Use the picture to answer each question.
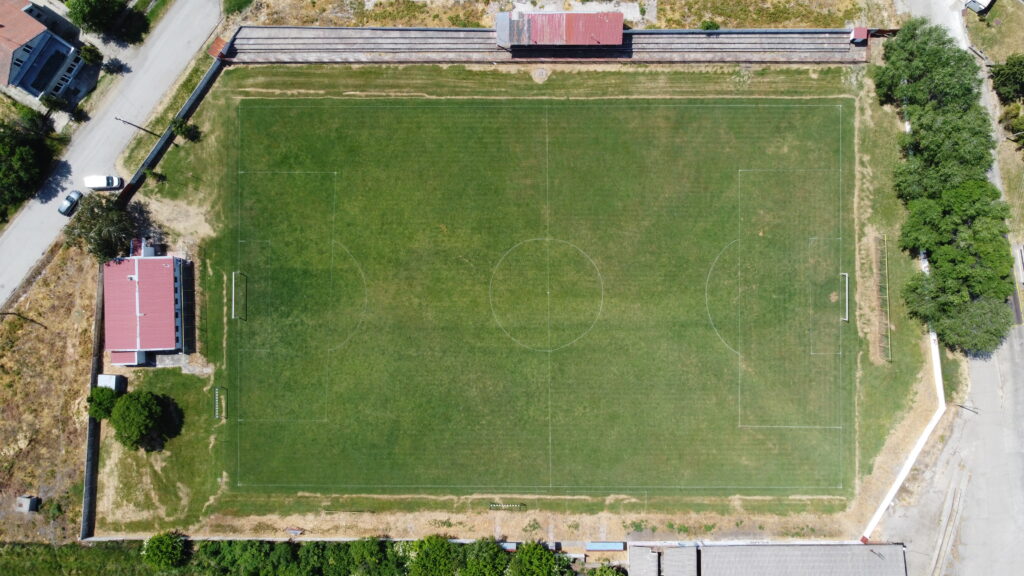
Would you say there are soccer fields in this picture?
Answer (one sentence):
Yes, this view includes a soccer field.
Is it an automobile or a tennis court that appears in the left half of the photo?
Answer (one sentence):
The one visible in the left half of the photo is an automobile.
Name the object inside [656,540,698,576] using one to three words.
building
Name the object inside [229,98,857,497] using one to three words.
soccer field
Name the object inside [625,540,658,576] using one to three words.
building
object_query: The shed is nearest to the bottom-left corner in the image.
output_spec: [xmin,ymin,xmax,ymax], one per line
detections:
[98,372,124,390]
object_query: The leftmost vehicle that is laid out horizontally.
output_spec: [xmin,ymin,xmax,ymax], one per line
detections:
[80,174,120,189]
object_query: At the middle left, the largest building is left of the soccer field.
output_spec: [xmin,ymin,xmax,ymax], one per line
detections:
[104,239,183,362]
